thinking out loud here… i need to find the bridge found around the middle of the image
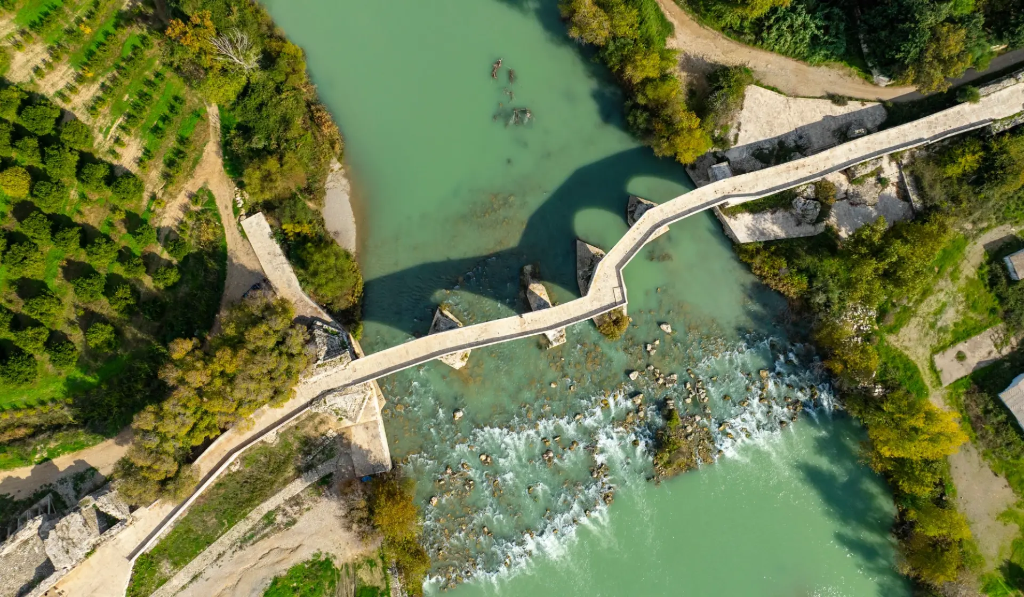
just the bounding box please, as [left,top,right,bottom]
[105,82,1024,561]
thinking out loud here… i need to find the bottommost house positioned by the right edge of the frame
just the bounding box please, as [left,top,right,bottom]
[991,371,1024,442]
